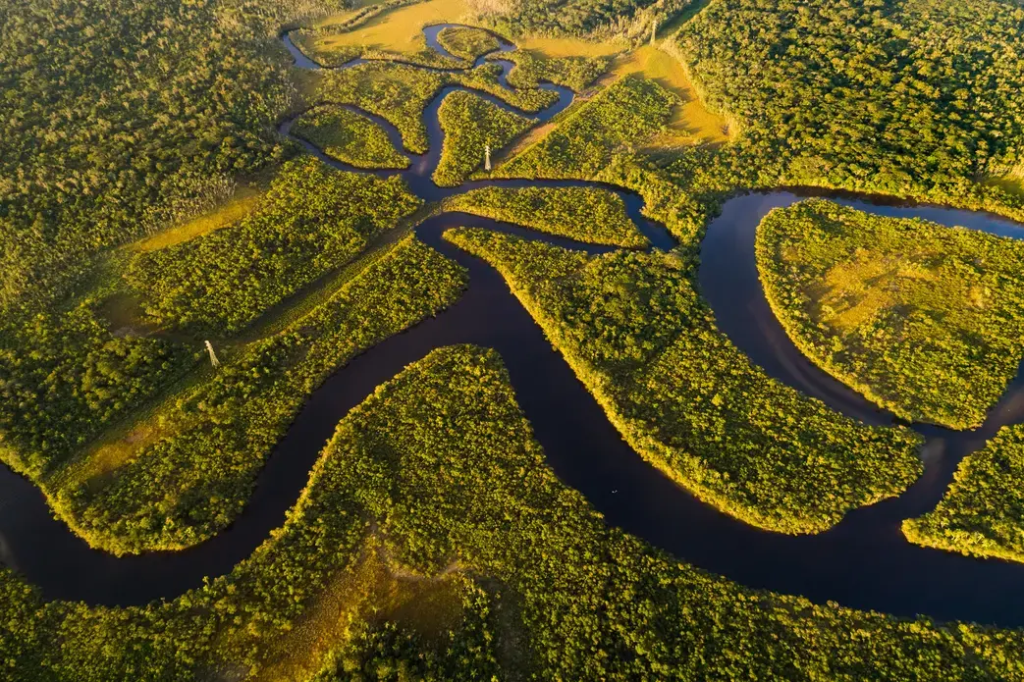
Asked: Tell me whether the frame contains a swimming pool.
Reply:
No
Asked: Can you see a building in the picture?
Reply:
No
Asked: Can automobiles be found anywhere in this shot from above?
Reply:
No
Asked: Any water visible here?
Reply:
Yes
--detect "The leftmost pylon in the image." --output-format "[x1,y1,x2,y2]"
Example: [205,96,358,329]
[203,339,220,366]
